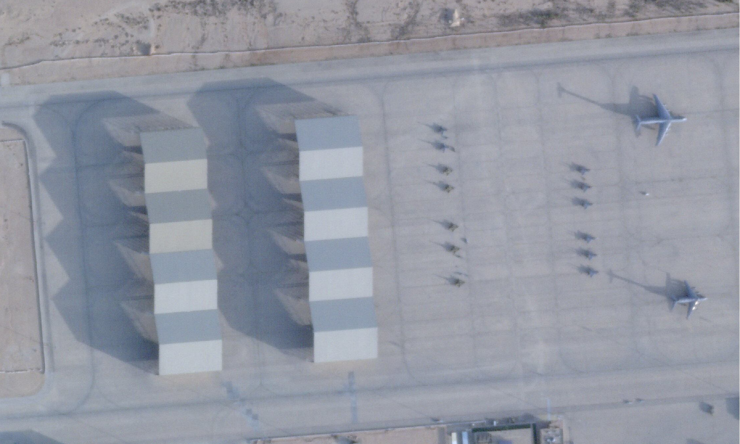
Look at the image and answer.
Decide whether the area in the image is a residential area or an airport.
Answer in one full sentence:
The picture captures an airport.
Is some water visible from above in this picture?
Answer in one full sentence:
No, no water is visible.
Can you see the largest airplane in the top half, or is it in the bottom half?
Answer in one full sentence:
You can find the largest airplane in the top half.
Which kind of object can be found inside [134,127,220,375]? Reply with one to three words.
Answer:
hangar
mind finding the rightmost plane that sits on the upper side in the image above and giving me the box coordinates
[635,96,687,147]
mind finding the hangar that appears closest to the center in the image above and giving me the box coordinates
[288,116,377,363]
